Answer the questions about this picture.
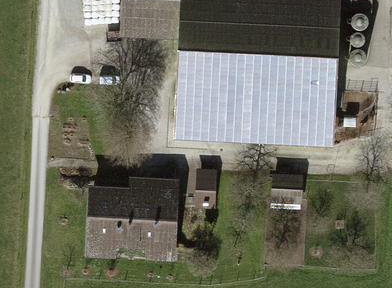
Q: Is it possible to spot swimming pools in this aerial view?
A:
No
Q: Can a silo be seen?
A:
Yes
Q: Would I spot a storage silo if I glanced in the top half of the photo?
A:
Yes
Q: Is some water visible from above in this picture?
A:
No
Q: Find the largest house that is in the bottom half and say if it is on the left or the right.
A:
left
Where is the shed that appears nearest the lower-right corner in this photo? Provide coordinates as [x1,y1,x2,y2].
[270,172,304,210]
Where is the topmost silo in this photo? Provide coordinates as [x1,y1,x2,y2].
[345,10,369,32]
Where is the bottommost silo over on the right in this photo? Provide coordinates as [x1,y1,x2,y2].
[344,44,366,66]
